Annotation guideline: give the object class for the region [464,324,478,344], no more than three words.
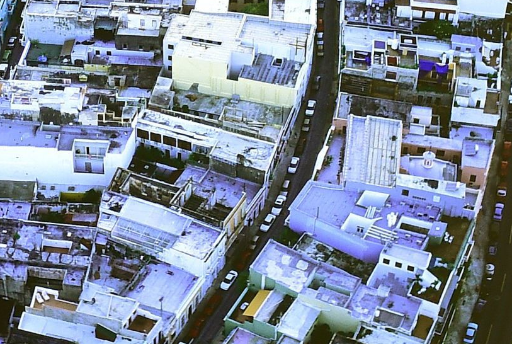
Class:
car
